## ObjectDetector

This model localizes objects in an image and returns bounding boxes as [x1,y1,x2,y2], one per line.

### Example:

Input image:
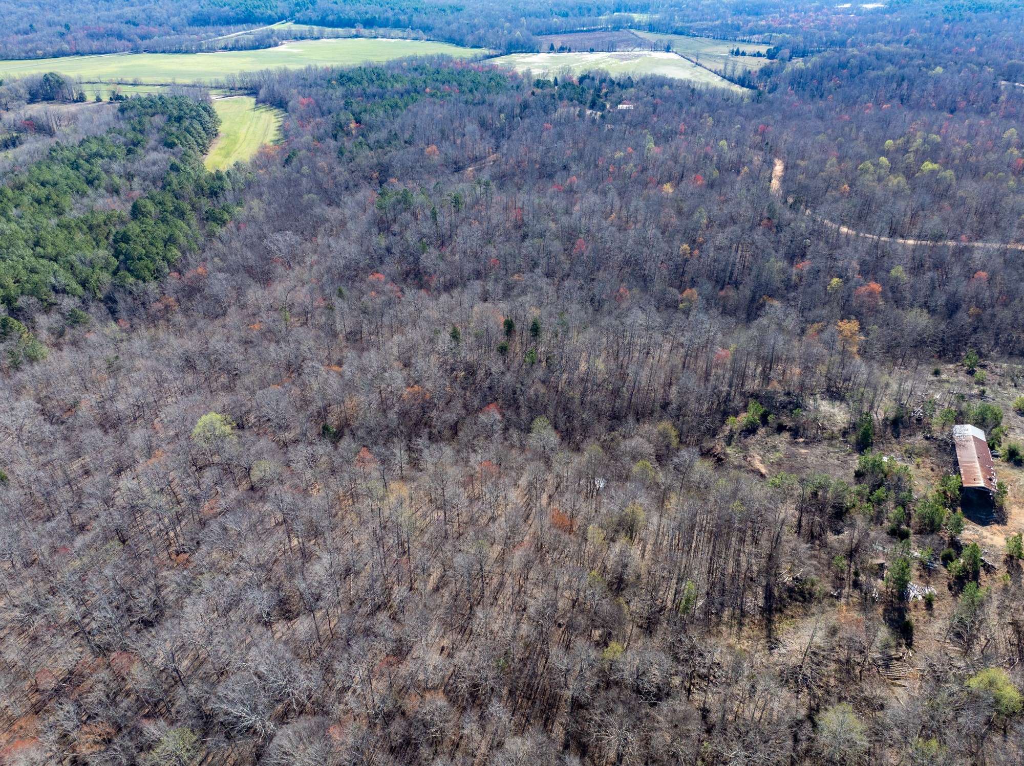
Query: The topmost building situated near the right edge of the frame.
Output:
[946,423,1002,509]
